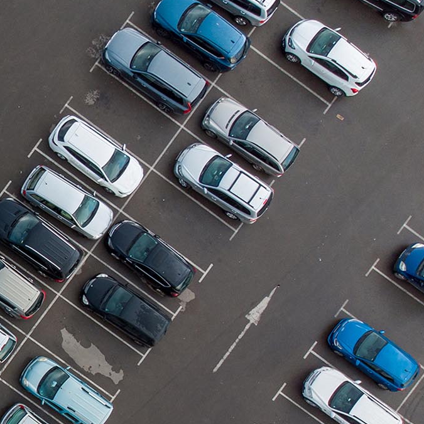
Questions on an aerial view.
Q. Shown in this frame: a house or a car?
car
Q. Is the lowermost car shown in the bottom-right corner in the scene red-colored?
No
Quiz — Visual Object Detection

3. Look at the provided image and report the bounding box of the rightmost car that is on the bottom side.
[389,243,424,300]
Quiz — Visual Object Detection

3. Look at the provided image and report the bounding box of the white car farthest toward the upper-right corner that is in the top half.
[278,14,383,99]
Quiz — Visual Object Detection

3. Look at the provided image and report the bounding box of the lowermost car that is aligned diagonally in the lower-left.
[18,355,119,424]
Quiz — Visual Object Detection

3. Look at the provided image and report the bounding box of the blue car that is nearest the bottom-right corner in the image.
[324,316,424,393]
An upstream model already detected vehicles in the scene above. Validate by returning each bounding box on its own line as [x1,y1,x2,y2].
[79,272,175,351]
[0,197,85,283]
[198,97,304,181]
[213,0,283,28]
[0,399,53,424]
[373,0,424,20]
[171,143,278,226]
[278,14,383,99]
[18,159,113,243]
[148,0,253,75]
[299,364,412,424]
[389,243,424,300]
[324,316,424,393]
[18,355,119,424]
[99,29,208,118]
[45,112,143,199]
[0,254,47,323]
[102,217,201,300]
